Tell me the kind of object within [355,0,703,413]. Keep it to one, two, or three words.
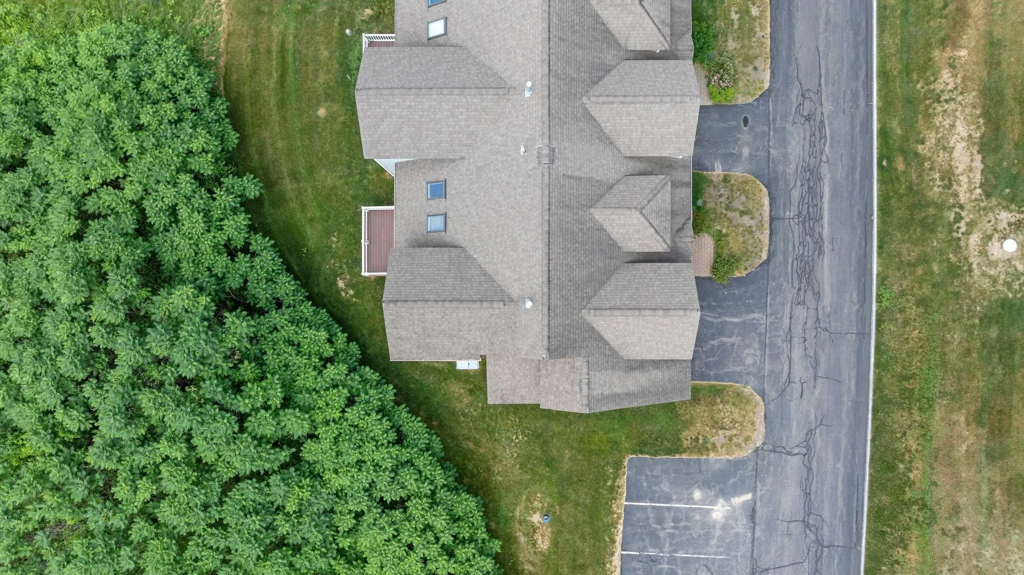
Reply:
house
